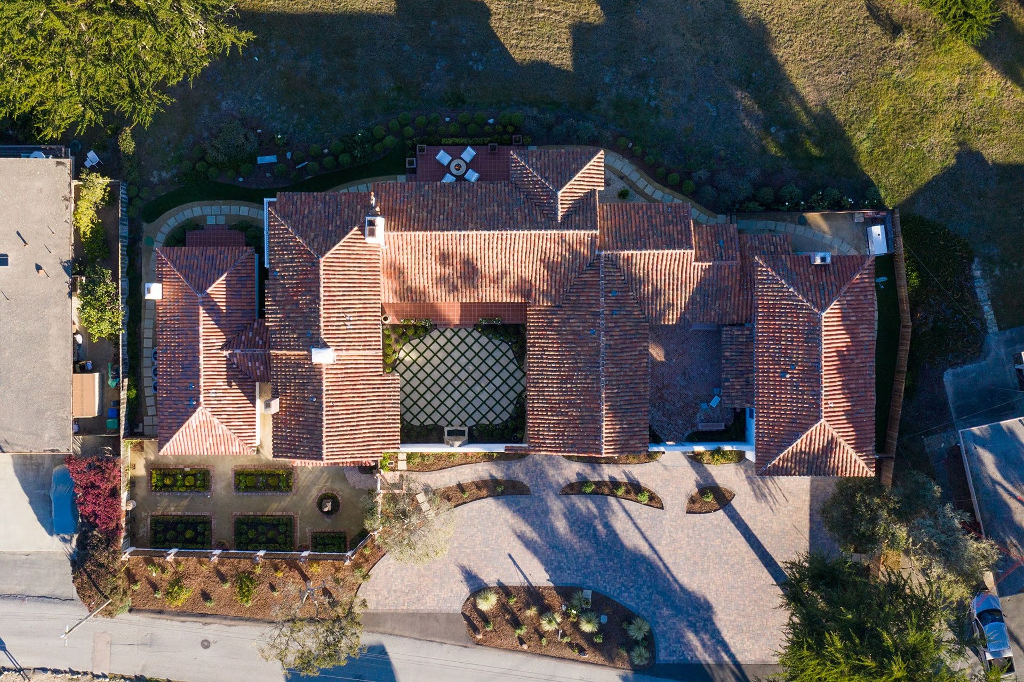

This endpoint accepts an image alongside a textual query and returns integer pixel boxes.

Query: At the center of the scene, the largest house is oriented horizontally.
[145,148,877,477]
